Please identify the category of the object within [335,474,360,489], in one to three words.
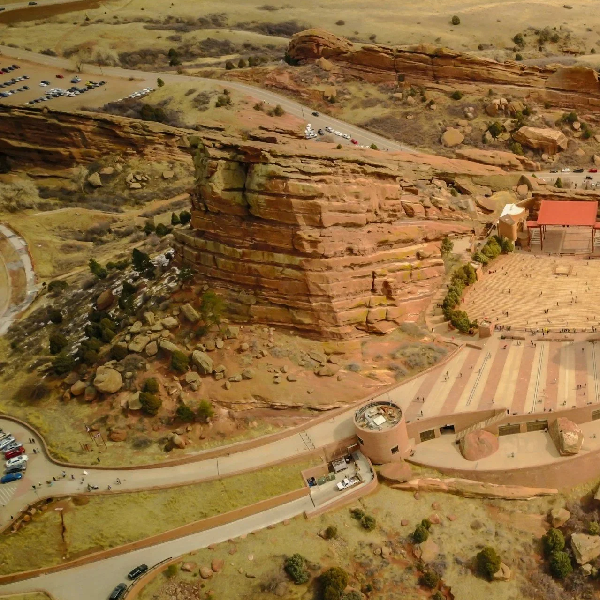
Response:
vehicle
